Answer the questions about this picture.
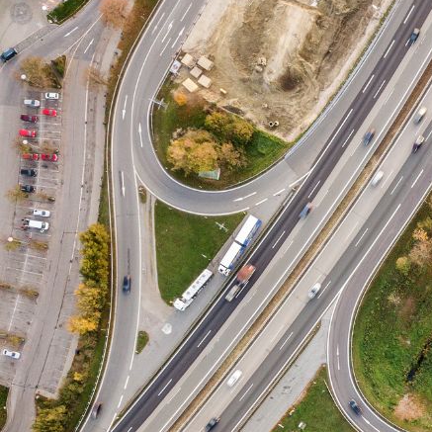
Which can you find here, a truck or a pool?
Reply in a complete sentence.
The image shows a truck.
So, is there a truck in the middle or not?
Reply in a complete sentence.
Yes, the scene does show a truck in the middle.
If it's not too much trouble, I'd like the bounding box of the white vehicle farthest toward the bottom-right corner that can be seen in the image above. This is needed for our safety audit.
[306,283,320,298]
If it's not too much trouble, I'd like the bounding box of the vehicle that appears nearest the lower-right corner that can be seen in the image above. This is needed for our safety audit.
[347,400,361,415]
